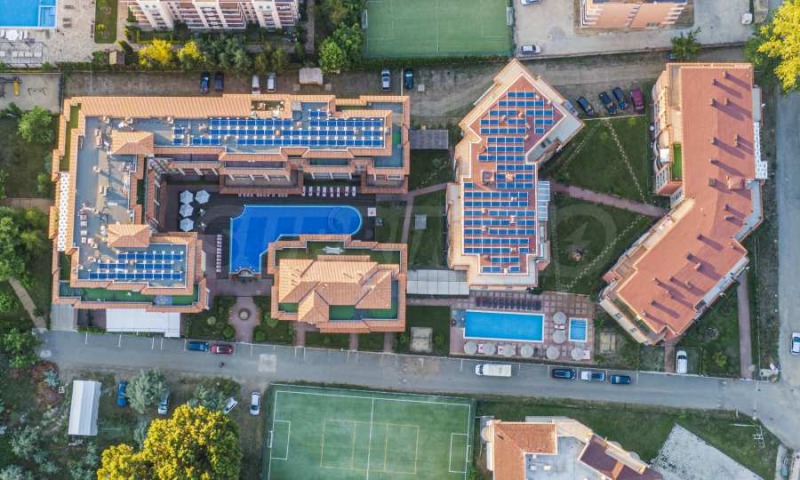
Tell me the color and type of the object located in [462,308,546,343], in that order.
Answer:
blue swimming pool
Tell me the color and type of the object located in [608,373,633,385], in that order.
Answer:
blue vehicle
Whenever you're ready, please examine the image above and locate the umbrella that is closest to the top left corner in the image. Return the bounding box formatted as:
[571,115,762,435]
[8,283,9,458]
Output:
[5,27,20,42]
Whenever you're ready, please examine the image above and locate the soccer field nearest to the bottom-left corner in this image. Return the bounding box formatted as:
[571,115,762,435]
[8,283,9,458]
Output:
[265,385,475,480]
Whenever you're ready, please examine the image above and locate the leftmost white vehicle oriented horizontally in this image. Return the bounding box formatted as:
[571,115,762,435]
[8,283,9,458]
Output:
[474,363,512,376]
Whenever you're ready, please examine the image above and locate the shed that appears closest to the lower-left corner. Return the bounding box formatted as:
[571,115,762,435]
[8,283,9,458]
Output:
[67,381,103,435]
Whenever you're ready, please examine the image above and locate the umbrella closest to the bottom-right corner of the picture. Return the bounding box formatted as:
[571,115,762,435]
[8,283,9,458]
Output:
[570,347,584,360]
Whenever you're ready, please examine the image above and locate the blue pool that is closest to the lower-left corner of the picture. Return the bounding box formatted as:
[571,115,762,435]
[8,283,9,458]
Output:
[229,204,364,278]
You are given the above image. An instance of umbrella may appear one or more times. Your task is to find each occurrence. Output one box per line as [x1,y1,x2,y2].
[5,27,20,42]
[502,344,515,357]
[552,312,566,325]
[545,346,559,360]
[196,190,209,204]
[179,204,194,217]
[180,218,195,231]
[180,191,195,205]
[463,342,477,355]
[483,342,496,356]
[552,330,566,344]
[520,345,534,358]
[570,347,584,360]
